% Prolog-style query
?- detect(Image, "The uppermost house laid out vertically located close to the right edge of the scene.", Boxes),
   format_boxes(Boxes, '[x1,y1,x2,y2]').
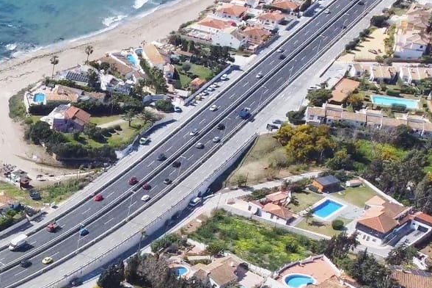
[394,1,432,71]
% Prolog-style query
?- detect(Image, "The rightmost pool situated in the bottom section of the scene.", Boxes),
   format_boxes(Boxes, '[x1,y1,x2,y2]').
[309,197,347,220]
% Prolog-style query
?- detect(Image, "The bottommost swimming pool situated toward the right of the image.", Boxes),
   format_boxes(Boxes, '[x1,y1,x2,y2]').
[282,272,315,288]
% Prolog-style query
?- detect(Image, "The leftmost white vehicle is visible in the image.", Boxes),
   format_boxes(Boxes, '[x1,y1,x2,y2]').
[9,232,28,248]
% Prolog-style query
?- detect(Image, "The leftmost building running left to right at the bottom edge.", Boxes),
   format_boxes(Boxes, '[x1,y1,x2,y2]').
[189,263,238,288]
